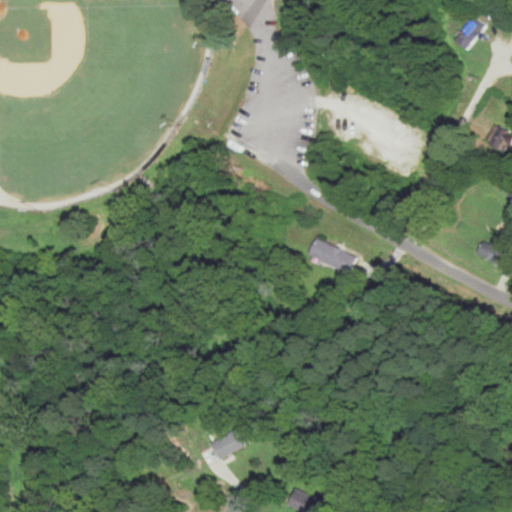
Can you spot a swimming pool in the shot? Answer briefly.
No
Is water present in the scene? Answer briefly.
No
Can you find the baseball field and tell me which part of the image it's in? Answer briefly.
top left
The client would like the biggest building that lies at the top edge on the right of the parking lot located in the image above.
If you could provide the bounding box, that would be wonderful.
[452,16,492,53]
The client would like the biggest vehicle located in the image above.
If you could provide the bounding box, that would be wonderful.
[226,140,246,154]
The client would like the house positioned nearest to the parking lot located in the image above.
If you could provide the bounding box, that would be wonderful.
[310,237,358,272]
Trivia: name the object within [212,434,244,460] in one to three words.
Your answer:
house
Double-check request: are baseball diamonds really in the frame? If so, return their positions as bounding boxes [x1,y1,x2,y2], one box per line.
[0,0,208,202]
